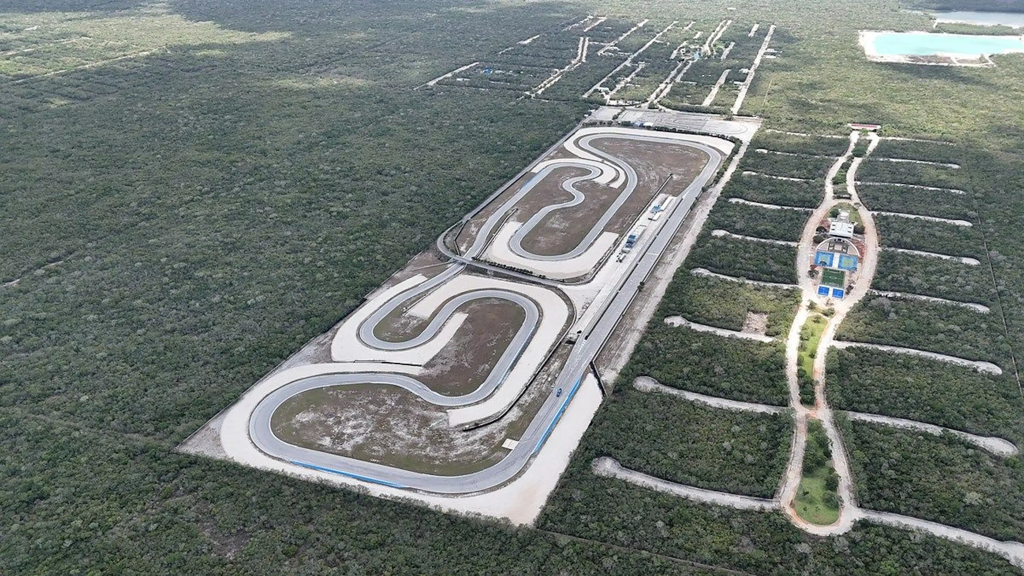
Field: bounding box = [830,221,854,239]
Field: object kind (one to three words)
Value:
building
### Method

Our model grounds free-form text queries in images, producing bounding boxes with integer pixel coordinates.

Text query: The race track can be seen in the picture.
[252,134,721,492]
